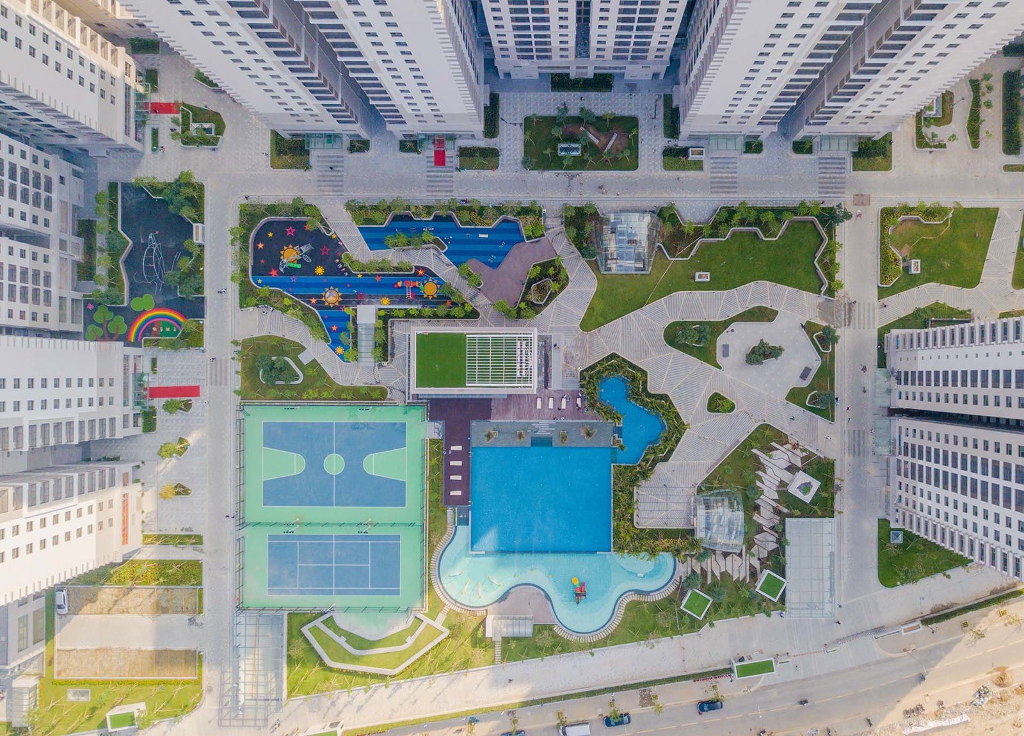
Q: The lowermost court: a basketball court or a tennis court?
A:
tennis court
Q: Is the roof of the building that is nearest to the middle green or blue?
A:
green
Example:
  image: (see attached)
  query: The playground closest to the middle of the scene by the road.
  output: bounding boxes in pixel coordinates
[250,221,454,363]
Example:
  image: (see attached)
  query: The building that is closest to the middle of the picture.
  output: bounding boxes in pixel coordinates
[411,327,538,398]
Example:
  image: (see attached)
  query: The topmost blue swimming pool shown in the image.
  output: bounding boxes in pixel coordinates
[600,377,666,465]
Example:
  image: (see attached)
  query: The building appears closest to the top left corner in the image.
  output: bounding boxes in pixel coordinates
[0,0,150,156]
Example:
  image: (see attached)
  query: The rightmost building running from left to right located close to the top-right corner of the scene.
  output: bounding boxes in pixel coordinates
[673,0,1024,141]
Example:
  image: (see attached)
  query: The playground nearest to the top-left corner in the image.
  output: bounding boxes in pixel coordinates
[82,182,205,344]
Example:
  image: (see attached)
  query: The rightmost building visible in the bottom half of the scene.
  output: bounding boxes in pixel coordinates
[881,309,1024,596]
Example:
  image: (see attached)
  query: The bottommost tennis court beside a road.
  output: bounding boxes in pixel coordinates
[243,525,424,639]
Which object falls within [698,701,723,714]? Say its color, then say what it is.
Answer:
blue vehicle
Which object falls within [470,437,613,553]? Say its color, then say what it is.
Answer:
blue swimming pool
